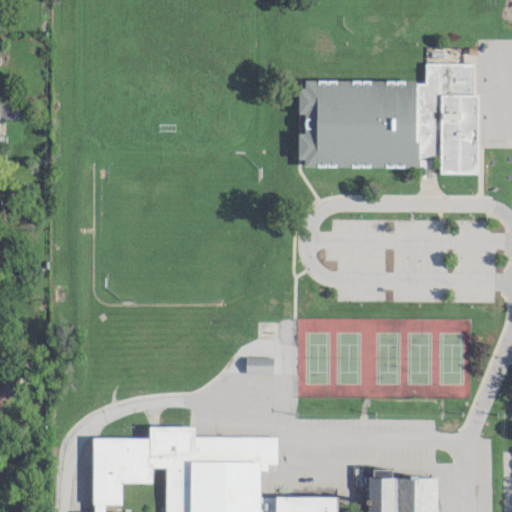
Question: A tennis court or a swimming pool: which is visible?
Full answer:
Looking from above, you can make out a tennis court.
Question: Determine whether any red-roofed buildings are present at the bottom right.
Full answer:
No, there is no red-roofed building at the bottom right.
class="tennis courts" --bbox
[438,332,466,385]
[336,332,362,385]
[407,332,432,385]
[375,332,401,385]
[306,332,331,385]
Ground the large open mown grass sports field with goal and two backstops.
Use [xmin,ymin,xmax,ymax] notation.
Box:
[97,112,286,303]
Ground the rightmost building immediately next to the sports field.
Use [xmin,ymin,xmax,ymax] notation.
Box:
[300,64,479,176]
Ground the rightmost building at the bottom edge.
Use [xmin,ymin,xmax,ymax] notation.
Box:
[366,468,438,512]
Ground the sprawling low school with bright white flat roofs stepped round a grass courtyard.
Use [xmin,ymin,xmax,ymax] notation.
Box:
[93,426,278,512]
